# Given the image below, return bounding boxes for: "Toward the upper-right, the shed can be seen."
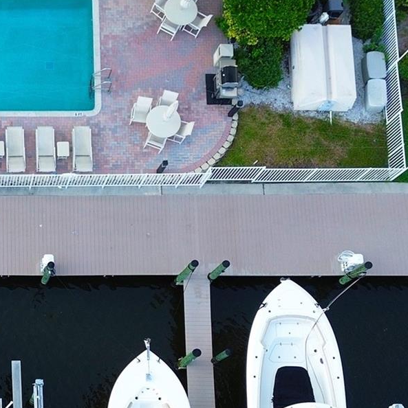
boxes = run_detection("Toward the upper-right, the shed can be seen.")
[290,21,361,110]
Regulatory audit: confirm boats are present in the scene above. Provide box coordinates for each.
[106,335,189,408]
[239,274,343,408]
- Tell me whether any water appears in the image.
Yes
